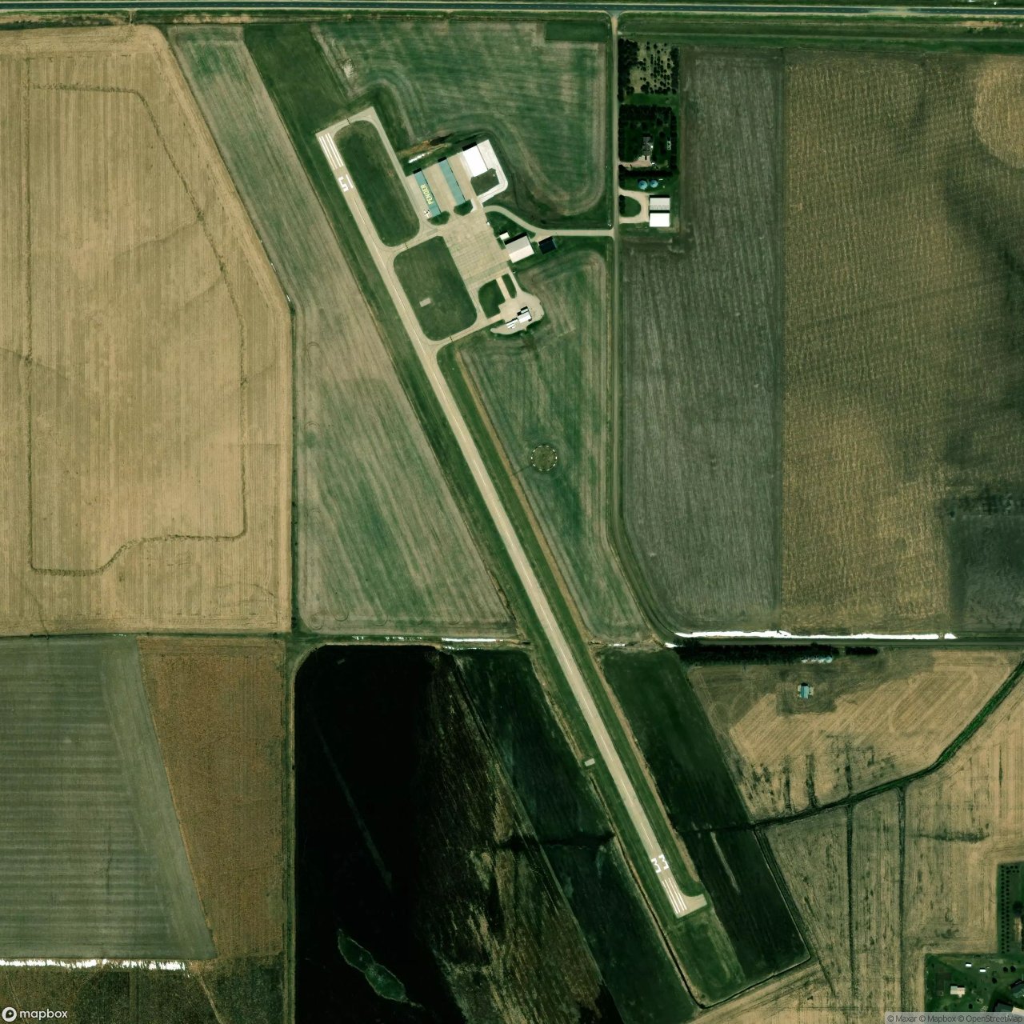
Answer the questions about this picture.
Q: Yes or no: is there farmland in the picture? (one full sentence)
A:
Yes, there is farmland in the image.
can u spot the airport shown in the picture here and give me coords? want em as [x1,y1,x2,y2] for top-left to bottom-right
[316,107,707,918]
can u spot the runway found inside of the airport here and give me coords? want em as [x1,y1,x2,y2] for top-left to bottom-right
[316,128,707,918]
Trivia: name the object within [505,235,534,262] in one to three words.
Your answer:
hangar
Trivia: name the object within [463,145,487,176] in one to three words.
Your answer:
hangar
